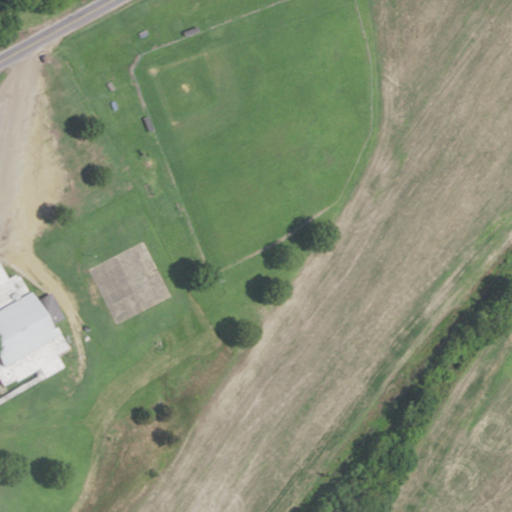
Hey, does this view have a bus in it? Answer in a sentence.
No, there appears to be no bus in this shot.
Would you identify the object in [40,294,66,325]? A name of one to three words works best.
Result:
shed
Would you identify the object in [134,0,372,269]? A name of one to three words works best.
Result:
baseball field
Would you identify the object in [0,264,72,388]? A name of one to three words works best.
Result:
building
